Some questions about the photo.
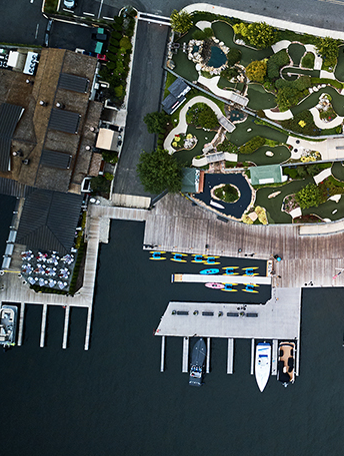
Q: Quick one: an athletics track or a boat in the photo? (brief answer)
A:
boat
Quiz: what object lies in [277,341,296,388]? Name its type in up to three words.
boat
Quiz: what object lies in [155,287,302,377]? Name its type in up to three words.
pier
